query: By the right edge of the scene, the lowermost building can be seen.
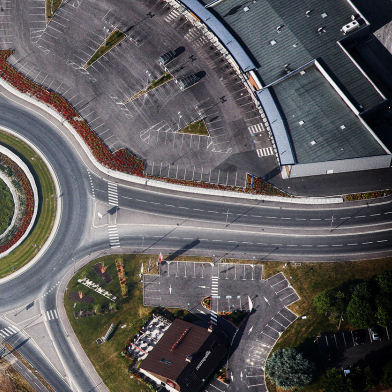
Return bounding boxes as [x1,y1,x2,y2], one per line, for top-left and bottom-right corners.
[256,62,392,177]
